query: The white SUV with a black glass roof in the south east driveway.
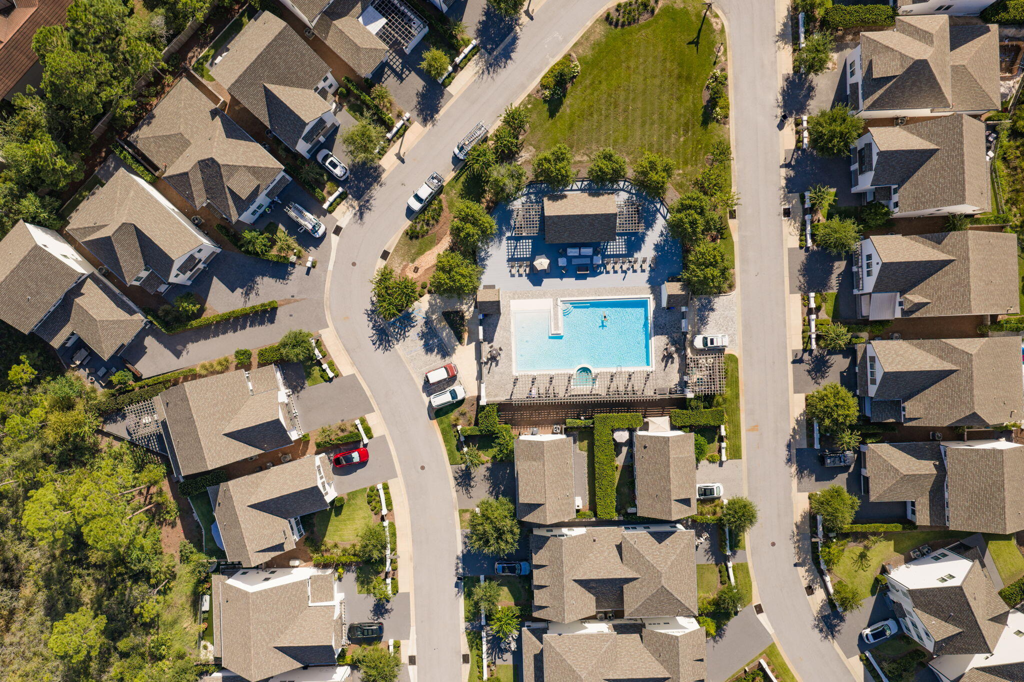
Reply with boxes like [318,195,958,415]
[858,616,897,644]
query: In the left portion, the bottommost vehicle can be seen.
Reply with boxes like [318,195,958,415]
[349,622,385,641]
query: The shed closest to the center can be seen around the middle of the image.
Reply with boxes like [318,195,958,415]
[477,284,501,315]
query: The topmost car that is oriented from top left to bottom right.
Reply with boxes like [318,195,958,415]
[317,150,352,184]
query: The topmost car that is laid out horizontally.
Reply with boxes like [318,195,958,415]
[692,333,728,351]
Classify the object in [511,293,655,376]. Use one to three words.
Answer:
swimming pool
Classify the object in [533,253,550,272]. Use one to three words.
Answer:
umbrella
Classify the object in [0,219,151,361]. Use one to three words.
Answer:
house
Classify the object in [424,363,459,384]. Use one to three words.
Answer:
car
